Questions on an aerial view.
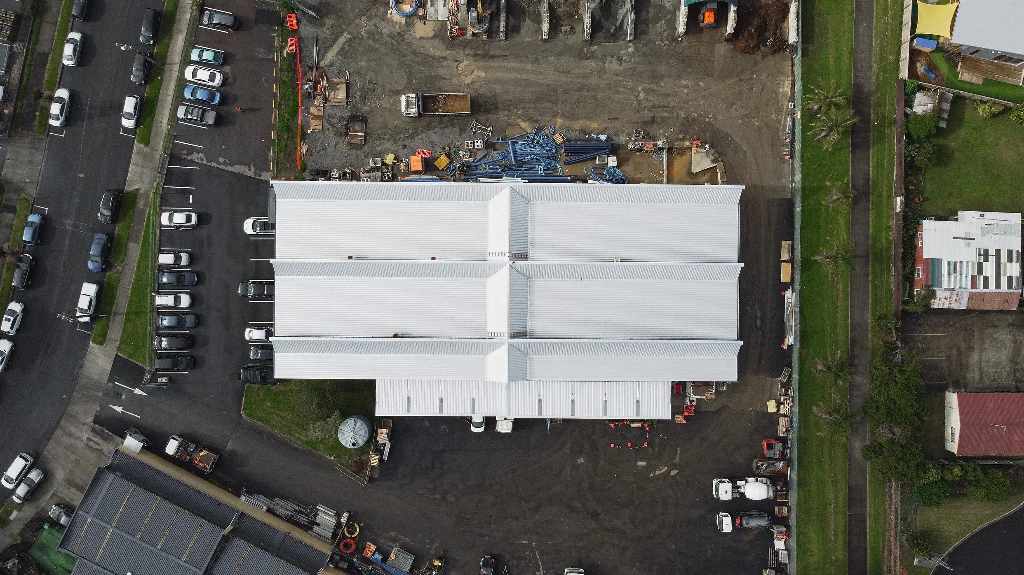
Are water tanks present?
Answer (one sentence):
Yes, there is a water tank in the image.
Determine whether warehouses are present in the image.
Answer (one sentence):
Yes, I can see a warehouse in this picture.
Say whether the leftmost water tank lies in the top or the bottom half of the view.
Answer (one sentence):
It is in the bottom half that the leftmost water tank appears.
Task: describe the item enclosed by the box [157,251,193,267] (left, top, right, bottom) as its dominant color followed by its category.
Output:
white car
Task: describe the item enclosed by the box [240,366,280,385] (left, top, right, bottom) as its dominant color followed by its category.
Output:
black car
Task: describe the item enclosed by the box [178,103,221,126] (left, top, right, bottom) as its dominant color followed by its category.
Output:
gray vehicle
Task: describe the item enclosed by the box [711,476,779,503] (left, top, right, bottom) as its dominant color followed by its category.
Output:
white truck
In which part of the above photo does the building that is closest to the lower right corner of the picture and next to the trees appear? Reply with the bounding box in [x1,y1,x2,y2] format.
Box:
[946,391,1024,457]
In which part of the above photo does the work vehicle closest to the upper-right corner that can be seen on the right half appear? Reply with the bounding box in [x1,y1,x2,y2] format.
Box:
[696,1,718,27]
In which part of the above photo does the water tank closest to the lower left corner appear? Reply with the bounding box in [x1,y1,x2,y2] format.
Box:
[339,413,374,448]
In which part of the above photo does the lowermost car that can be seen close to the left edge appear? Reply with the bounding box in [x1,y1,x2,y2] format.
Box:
[46,501,73,528]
